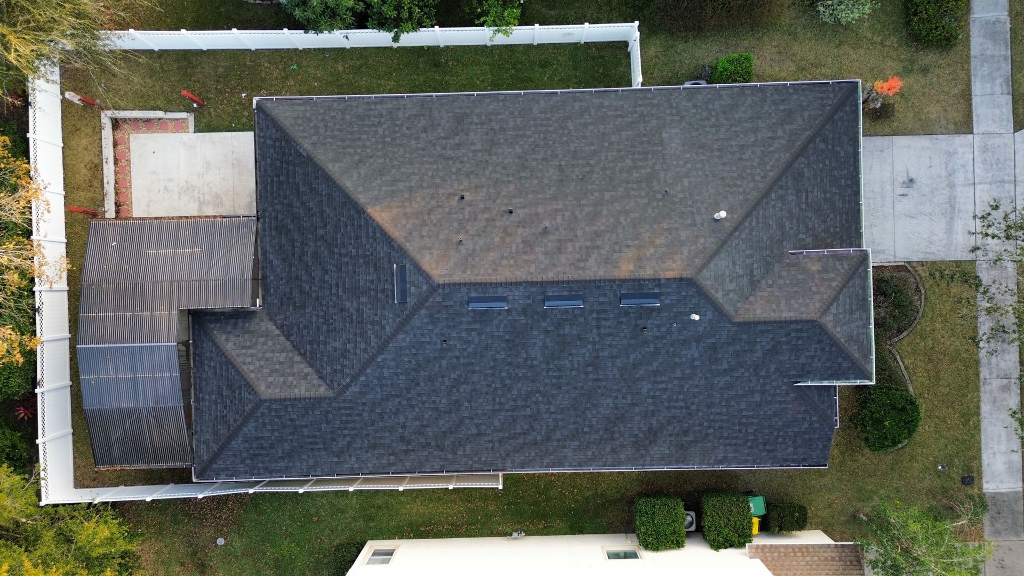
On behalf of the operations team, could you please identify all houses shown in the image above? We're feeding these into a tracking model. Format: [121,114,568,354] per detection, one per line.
[189,79,876,482]
[349,529,862,576]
